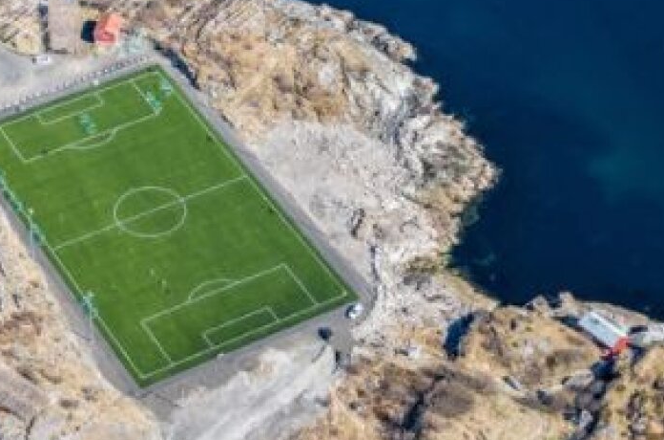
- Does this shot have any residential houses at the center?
No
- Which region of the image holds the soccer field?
left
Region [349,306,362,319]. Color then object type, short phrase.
white vehicle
